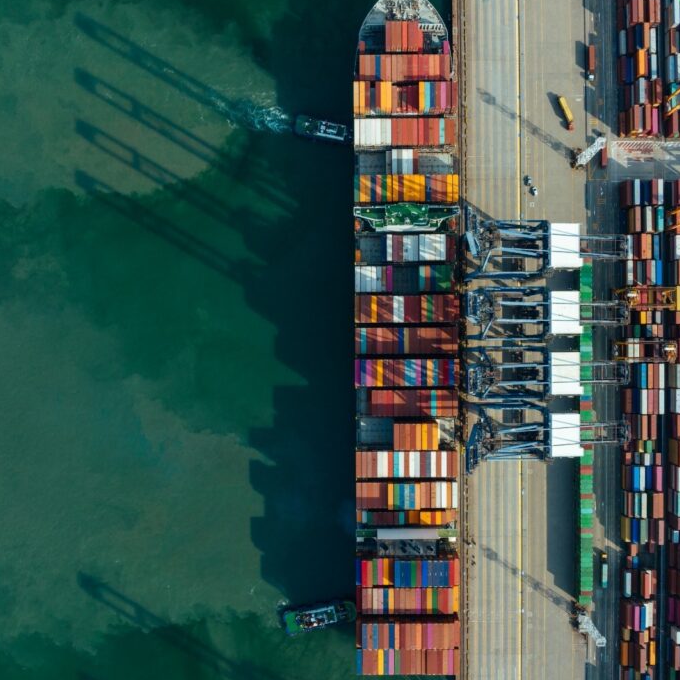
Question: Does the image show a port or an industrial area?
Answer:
port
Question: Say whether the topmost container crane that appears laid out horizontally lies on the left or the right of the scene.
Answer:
right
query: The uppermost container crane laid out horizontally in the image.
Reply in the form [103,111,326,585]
[460,206,632,289]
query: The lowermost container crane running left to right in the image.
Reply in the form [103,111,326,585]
[460,393,632,471]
